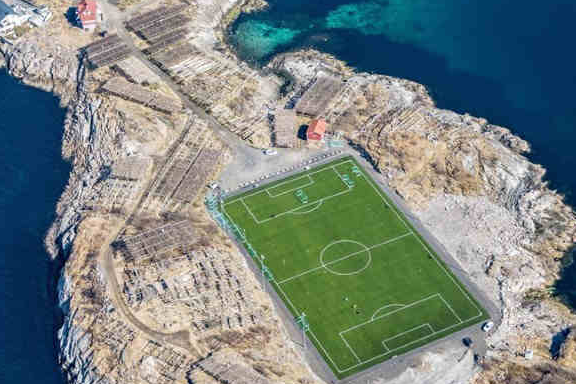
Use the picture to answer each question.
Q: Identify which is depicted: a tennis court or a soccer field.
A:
soccer field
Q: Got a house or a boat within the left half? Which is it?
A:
house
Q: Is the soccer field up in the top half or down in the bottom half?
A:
bottom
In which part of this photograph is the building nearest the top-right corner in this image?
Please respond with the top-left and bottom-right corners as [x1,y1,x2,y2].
[306,113,324,142]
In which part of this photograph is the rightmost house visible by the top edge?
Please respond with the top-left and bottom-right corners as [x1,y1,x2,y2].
[77,0,100,34]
